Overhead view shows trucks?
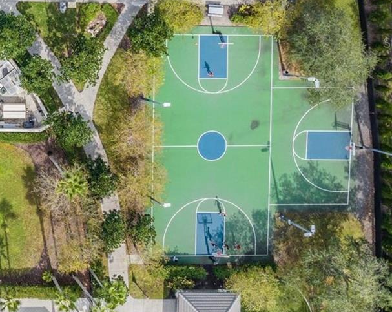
No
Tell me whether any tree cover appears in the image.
Yes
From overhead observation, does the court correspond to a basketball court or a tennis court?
basketball court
